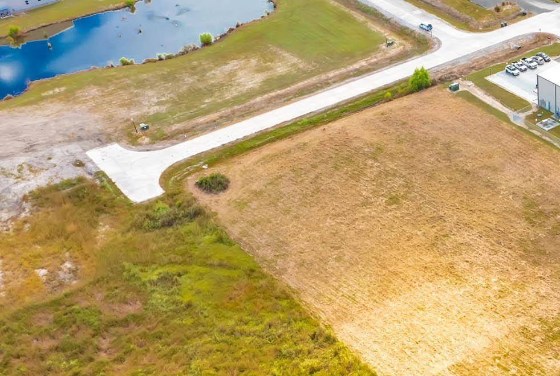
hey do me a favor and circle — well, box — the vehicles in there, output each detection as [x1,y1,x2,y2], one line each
[536,50,551,62]
[510,60,529,73]
[529,53,545,65]
[416,21,435,32]
[518,57,539,69]
[503,63,519,75]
